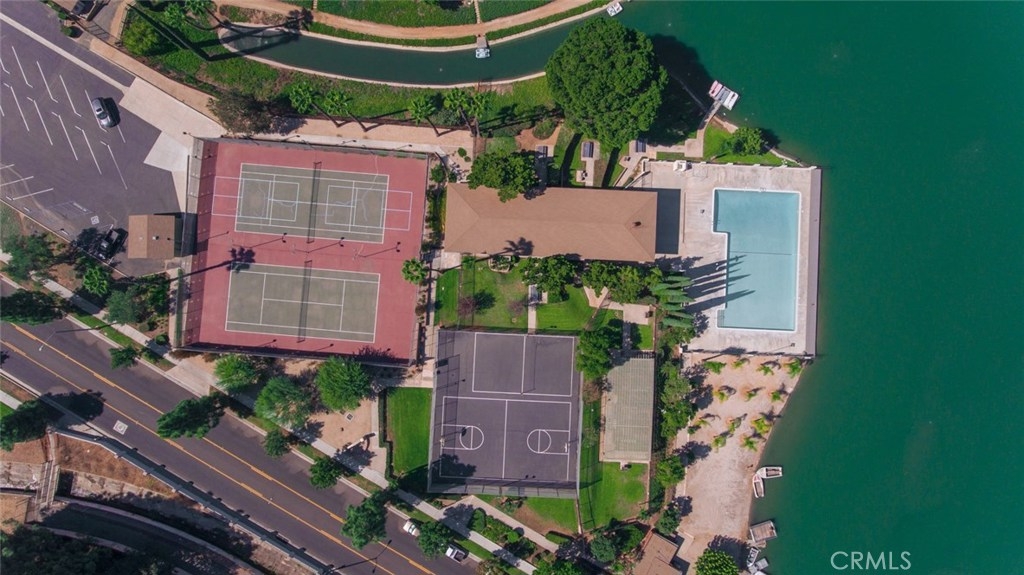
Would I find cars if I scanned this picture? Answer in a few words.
Yes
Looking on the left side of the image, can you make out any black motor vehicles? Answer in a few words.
Yes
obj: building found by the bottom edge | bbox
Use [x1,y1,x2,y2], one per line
[624,527,684,575]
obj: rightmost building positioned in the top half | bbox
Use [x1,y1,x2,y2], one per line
[444,184,657,262]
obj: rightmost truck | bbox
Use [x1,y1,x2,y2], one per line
[449,540,474,567]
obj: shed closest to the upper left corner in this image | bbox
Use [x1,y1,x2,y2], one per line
[128,215,180,258]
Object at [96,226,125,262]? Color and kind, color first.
black truck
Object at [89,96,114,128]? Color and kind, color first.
gray car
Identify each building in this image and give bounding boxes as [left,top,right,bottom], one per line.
[624,527,684,575]
[444,184,657,262]
[128,215,180,258]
